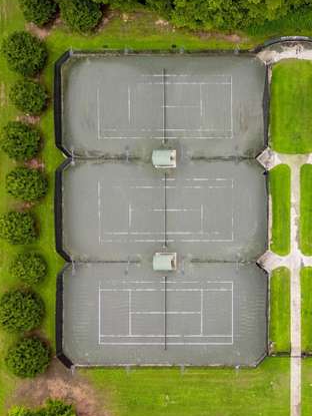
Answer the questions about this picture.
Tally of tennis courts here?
3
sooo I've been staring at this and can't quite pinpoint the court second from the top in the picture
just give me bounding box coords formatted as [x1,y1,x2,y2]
[63,157,268,262]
